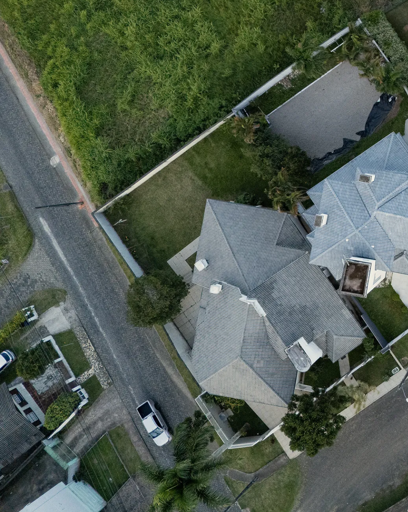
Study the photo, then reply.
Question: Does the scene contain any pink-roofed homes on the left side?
No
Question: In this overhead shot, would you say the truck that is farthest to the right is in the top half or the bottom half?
bottom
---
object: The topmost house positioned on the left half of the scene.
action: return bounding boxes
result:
[0,376,57,470]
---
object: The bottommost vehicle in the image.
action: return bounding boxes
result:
[135,398,173,445]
